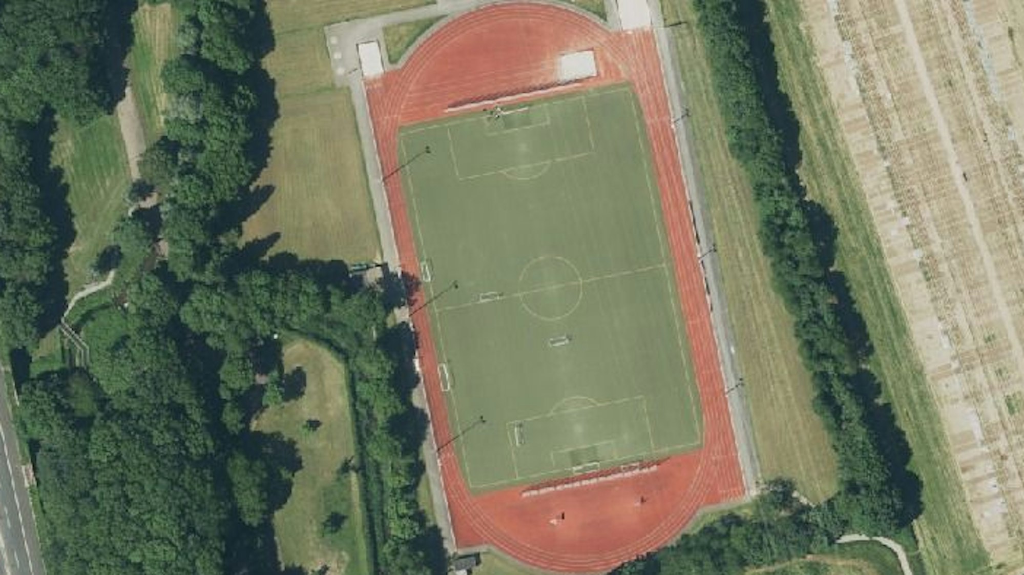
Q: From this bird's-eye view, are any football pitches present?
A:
Yes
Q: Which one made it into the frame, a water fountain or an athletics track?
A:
athletics track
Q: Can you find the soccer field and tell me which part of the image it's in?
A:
center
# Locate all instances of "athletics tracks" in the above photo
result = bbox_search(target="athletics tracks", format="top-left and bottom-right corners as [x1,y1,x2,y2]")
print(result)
[360,2,749,573]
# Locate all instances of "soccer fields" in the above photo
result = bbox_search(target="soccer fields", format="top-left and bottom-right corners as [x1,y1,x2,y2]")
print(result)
[396,79,705,496]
